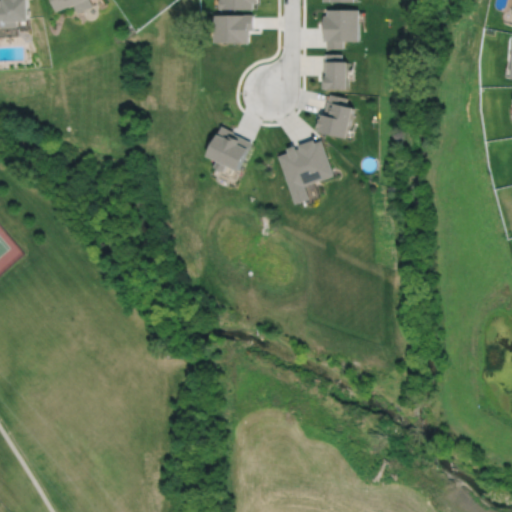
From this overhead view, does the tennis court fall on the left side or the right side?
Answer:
left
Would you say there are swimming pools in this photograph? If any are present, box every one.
[495,0,508,10]
[361,156,382,174]
[0,46,24,62]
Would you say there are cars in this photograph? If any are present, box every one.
[306,105,318,112]
[317,94,326,100]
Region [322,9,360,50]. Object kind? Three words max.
house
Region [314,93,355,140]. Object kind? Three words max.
house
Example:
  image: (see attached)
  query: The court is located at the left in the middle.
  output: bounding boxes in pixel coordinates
[0,226,24,274]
